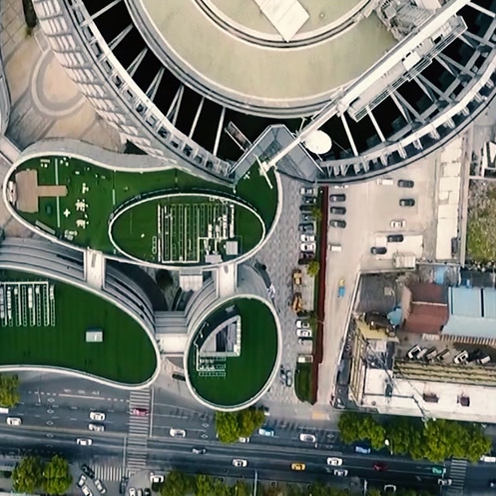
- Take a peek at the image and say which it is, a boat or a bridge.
bridge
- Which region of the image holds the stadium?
top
